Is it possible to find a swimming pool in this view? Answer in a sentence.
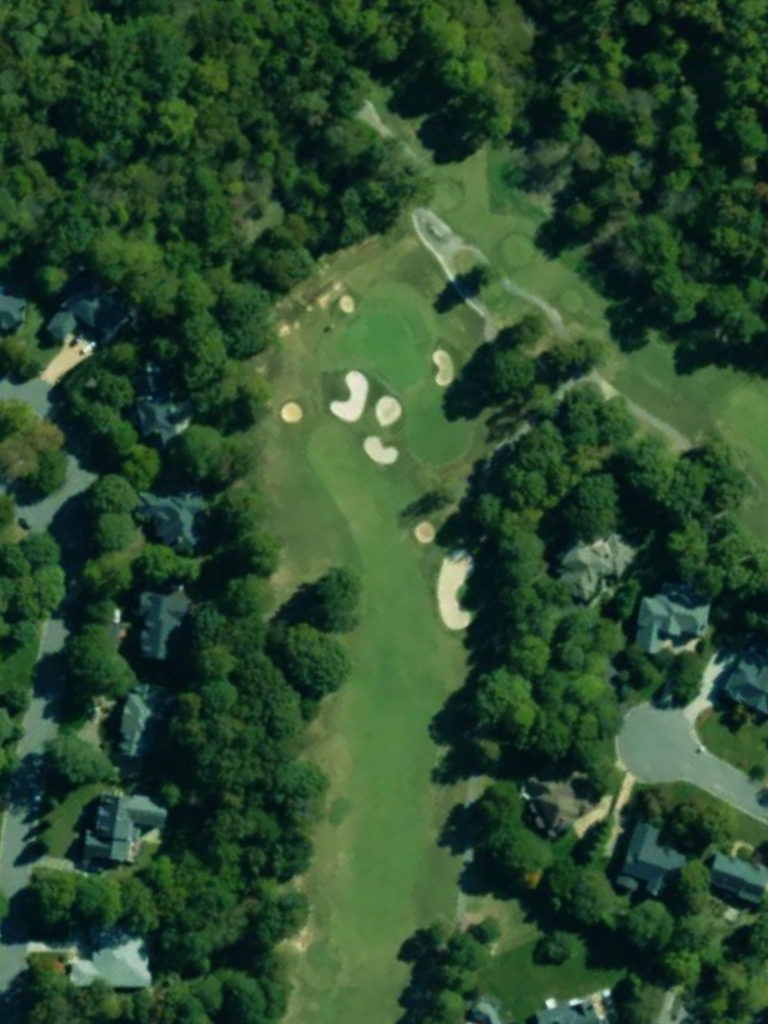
No, I can see no swimming pool in this picture.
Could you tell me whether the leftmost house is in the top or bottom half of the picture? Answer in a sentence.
The top half of the photo is where the leftmost house is.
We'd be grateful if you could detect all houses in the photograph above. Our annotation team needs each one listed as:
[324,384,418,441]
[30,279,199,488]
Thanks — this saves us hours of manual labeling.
[67,934,151,990]
[636,583,714,654]
[616,818,690,898]
[138,373,194,446]
[43,284,131,342]
[461,998,500,1024]
[133,489,203,550]
[0,288,30,334]
[520,773,590,841]
[719,649,768,712]
[139,586,191,659]
[82,792,168,864]
[534,989,613,1024]
[115,681,159,758]
[707,851,768,906]
[557,532,637,602]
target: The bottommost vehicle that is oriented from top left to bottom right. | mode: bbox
[16,516,30,531]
